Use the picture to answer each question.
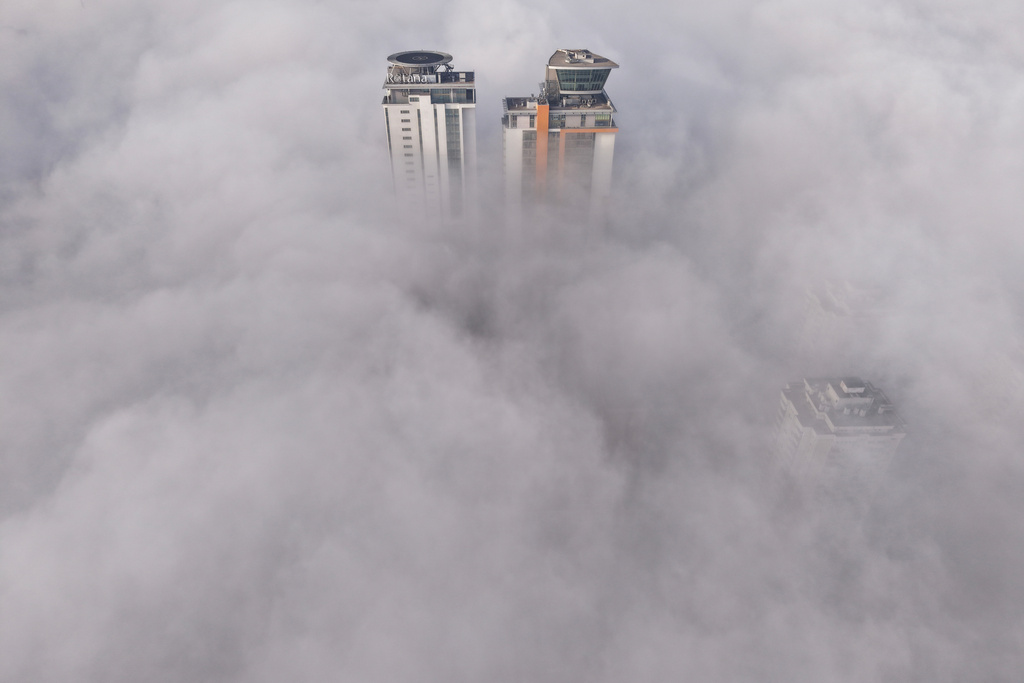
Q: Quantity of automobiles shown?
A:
0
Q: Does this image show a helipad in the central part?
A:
No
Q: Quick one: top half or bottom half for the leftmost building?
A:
top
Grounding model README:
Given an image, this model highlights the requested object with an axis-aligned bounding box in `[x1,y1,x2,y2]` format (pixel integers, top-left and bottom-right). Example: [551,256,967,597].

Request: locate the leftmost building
[382,49,481,321]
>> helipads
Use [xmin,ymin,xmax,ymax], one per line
[387,49,453,82]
